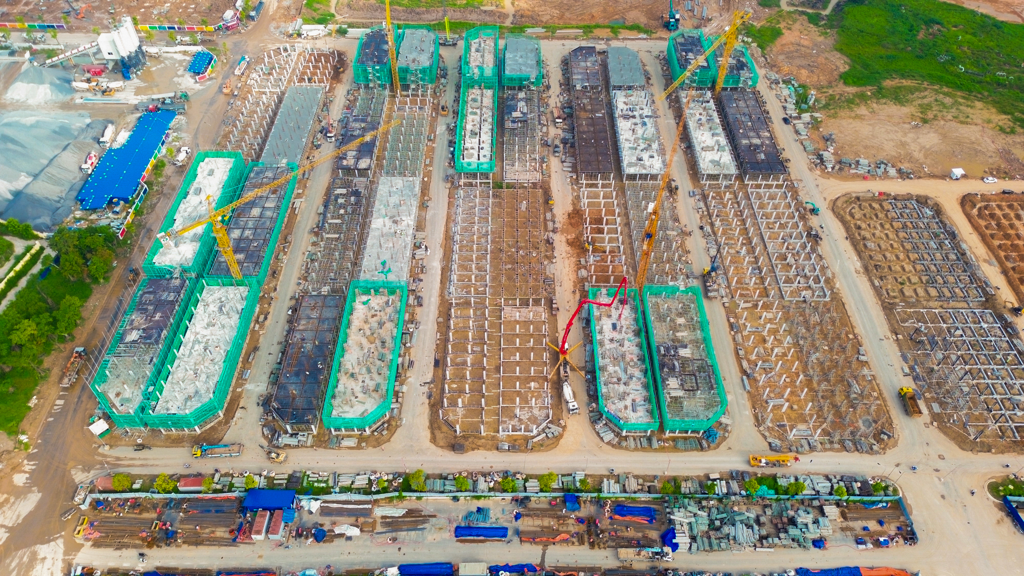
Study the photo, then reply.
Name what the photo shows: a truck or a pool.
truck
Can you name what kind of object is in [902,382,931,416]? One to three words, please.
truck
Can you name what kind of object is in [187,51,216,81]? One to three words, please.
shed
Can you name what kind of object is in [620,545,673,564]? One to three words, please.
vehicle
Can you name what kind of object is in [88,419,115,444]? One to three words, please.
building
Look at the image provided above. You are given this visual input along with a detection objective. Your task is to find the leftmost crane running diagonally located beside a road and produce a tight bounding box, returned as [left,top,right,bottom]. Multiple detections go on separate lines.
[149,118,401,280]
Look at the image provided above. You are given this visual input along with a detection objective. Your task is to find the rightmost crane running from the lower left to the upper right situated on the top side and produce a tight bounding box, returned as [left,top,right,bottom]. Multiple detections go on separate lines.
[661,7,749,100]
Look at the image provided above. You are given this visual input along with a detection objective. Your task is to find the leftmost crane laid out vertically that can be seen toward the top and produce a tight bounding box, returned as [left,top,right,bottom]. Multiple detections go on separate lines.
[379,0,401,101]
